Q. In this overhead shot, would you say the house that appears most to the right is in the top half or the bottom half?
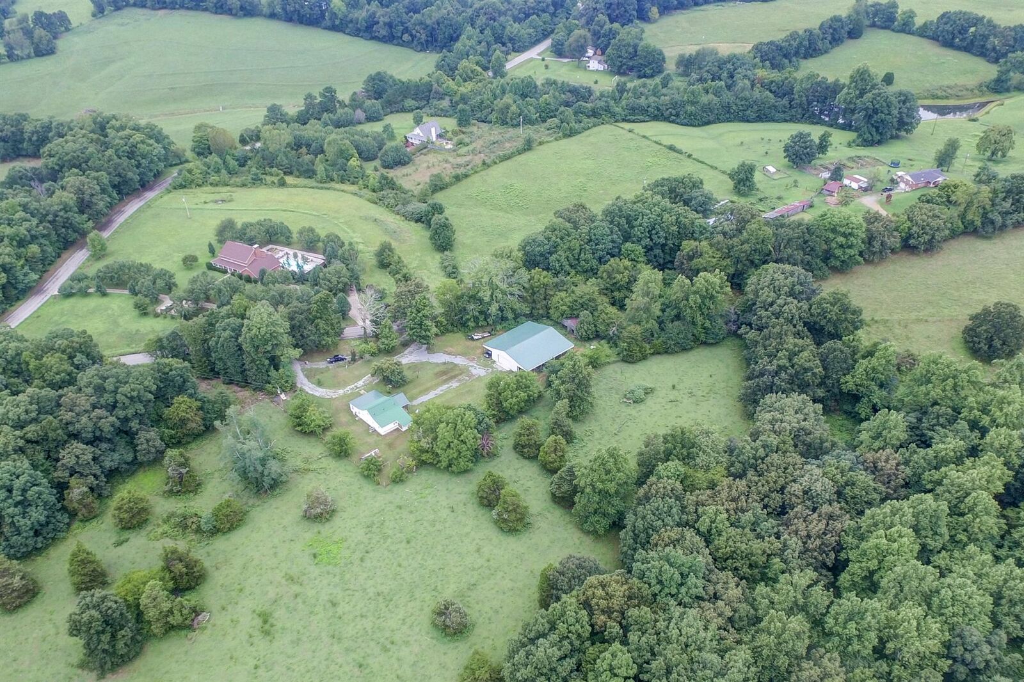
top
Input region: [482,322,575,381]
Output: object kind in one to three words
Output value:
barn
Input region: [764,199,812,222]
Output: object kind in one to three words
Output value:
shed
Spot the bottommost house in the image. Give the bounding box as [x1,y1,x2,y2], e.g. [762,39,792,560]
[347,389,414,435]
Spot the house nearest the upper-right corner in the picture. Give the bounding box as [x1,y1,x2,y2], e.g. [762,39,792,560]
[894,169,949,191]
